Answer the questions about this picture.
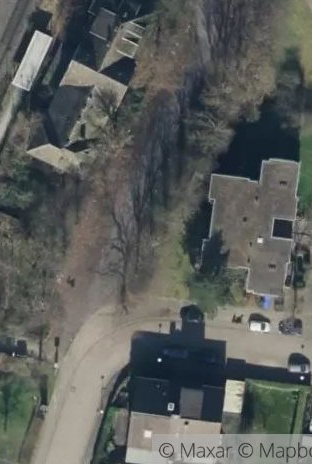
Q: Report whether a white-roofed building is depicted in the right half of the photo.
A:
Yes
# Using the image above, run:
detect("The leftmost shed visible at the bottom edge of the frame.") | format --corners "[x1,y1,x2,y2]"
[114,408,128,446]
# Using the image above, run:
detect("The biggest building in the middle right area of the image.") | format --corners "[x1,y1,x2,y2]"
[201,159,301,297]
